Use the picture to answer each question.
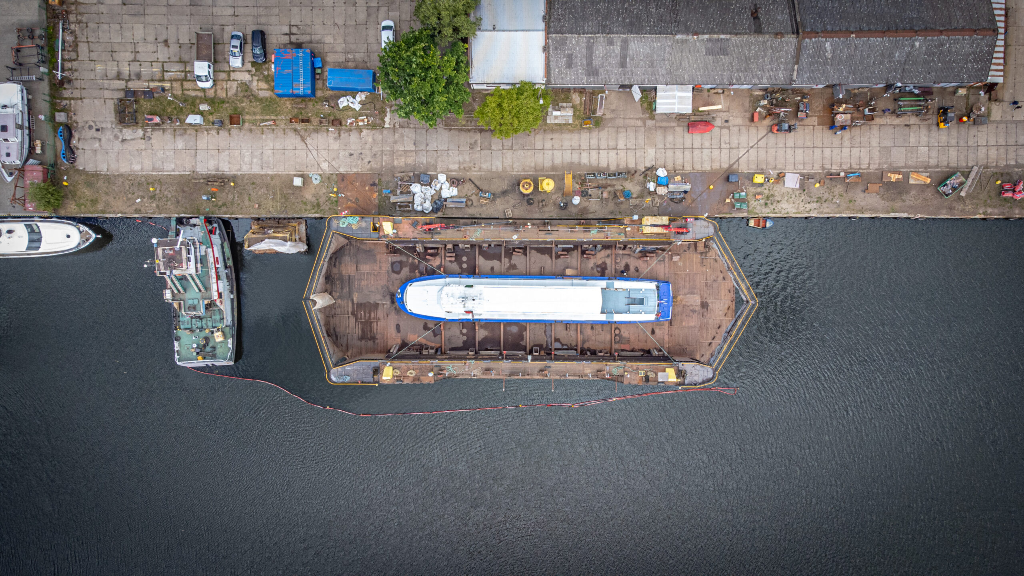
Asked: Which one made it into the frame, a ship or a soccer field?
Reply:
ship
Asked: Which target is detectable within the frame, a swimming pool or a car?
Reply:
car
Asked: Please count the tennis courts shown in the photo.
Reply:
0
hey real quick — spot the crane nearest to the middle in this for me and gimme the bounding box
[409,217,534,237]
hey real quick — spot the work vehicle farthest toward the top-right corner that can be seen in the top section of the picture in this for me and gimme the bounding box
[935,102,957,129]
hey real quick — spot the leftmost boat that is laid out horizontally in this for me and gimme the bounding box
[0,218,102,258]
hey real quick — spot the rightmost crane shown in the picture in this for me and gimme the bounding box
[570,222,701,236]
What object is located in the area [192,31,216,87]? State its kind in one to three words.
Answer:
truck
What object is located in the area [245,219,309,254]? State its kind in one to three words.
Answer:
pier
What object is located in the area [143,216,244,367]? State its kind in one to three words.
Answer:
ship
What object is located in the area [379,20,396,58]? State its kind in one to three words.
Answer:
car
